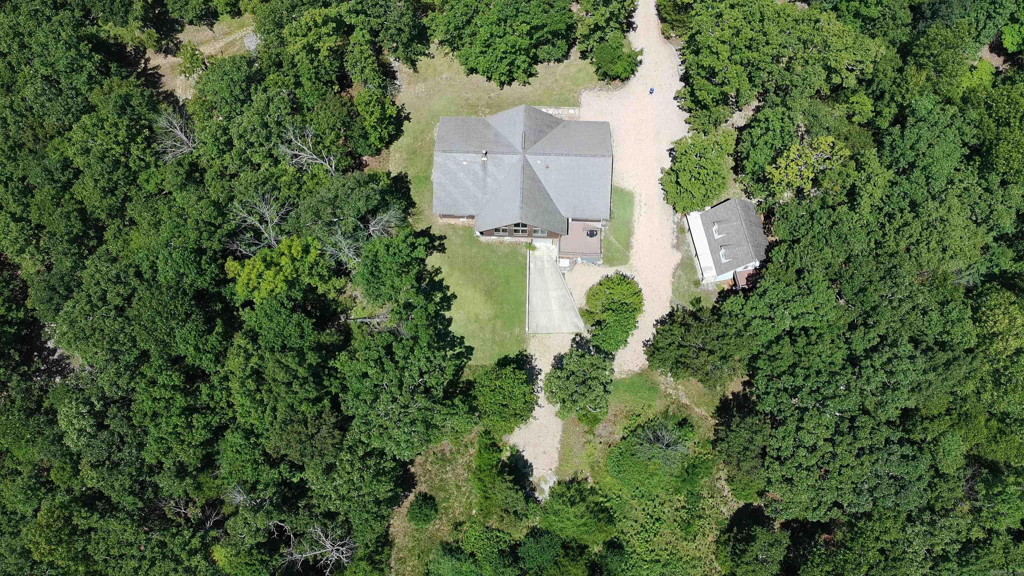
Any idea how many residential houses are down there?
2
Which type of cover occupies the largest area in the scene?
trees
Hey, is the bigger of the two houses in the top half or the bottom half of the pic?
top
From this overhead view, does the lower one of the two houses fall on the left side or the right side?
right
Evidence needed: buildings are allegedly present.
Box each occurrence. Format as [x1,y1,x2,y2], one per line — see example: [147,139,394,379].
[680,199,777,284]
[432,106,613,244]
